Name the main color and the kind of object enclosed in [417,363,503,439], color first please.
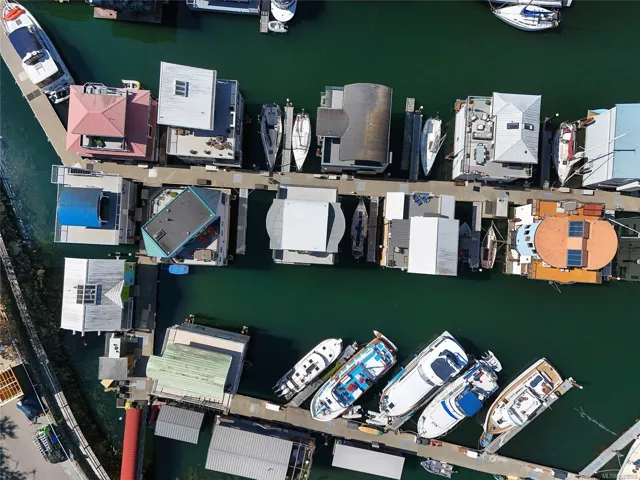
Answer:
white boat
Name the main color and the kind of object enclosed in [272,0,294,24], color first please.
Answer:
white boat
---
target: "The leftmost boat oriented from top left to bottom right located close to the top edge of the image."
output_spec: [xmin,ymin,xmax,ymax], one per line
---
[0,0,76,105]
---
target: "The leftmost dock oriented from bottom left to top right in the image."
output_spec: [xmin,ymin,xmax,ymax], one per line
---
[286,345,357,410]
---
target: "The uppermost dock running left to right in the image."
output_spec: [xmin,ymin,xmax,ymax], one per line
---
[0,25,640,213]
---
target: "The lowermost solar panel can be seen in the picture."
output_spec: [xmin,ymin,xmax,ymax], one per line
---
[566,249,582,266]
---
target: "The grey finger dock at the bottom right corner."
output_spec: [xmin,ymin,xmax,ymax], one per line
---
[577,419,640,477]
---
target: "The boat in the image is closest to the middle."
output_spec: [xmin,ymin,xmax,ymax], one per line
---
[350,199,368,258]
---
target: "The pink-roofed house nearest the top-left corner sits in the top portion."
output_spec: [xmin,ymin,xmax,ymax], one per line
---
[66,78,159,162]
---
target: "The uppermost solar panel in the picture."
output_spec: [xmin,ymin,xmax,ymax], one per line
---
[568,221,584,238]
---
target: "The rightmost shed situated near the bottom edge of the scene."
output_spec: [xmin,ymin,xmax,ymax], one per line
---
[332,435,407,479]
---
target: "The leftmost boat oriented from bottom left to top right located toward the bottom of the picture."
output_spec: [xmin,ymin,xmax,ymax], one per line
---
[278,337,344,398]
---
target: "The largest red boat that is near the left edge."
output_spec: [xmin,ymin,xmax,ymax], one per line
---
[2,6,23,20]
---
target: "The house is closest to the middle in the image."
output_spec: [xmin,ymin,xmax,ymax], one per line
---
[266,186,346,265]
